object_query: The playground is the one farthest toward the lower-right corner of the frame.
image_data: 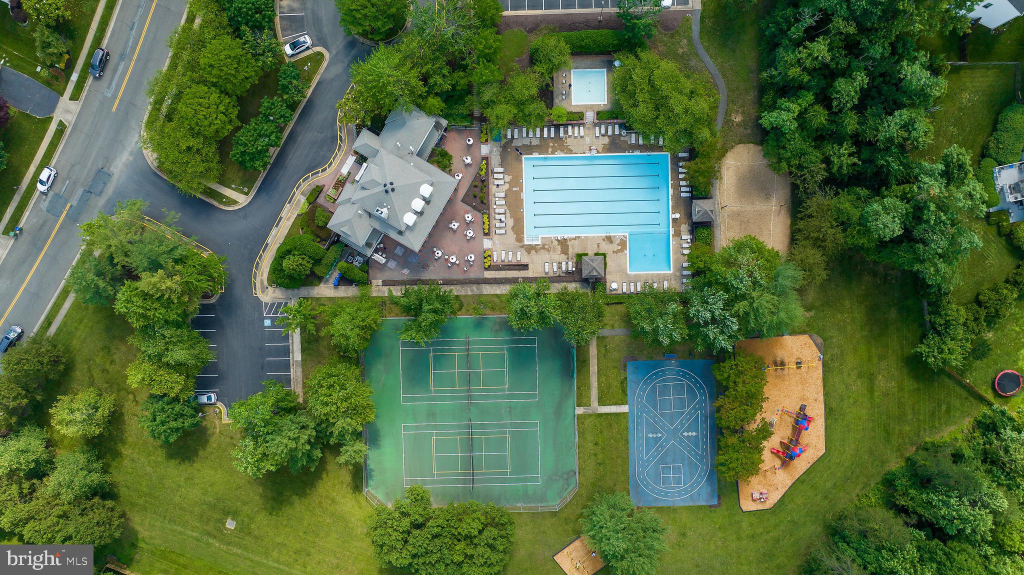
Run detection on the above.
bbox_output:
[734,331,826,512]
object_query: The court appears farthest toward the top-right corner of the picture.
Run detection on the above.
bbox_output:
[720,143,791,265]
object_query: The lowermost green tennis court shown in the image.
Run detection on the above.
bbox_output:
[364,414,577,506]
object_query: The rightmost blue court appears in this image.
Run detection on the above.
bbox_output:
[627,360,718,507]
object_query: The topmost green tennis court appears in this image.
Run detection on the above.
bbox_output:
[363,316,575,418]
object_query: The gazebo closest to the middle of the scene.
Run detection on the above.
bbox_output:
[582,256,604,281]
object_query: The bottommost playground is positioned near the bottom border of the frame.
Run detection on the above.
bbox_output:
[552,535,607,575]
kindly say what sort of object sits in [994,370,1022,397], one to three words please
trampoline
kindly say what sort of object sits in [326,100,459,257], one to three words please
building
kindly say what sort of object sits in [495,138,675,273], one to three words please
swimming pool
